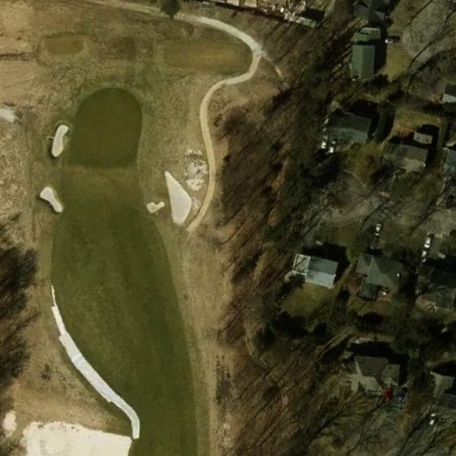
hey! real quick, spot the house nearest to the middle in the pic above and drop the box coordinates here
[293,253,339,287]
